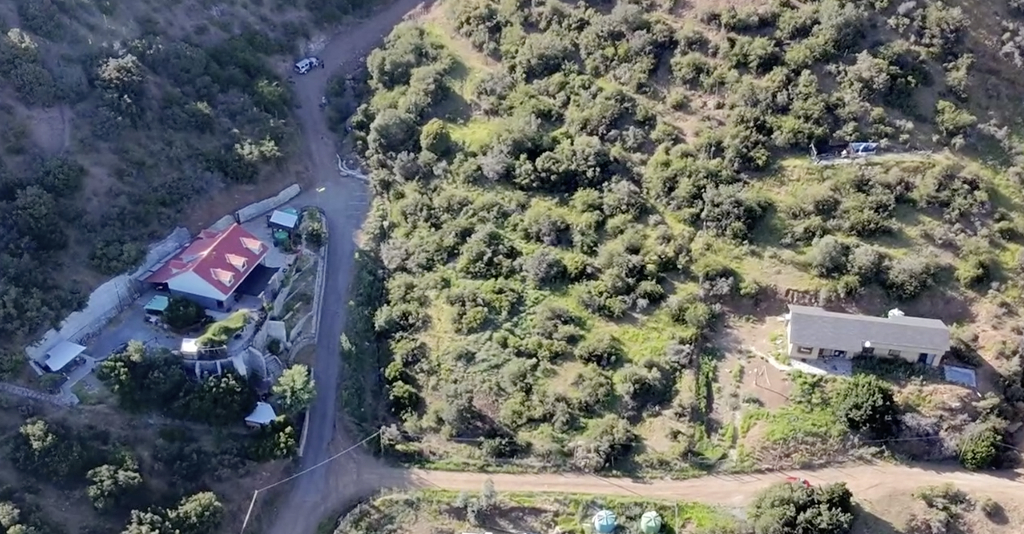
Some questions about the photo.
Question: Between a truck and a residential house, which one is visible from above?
residential house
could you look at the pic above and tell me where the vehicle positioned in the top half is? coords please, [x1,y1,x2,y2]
[293,58,320,74]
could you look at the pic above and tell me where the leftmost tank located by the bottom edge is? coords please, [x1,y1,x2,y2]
[593,511,618,534]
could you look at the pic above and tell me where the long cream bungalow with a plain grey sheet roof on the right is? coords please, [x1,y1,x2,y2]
[786,305,951,364]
